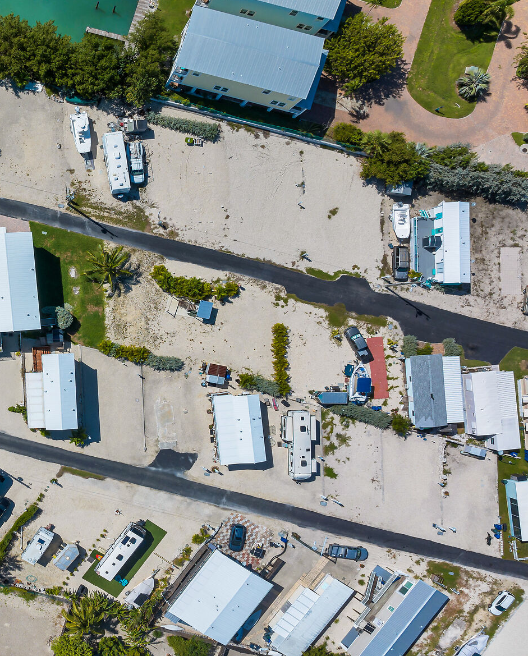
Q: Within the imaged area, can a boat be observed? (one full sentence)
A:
Yes, this view includes a boat.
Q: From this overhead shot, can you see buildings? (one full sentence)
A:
Yes, the picture does show a building.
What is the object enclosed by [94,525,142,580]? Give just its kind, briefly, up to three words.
camper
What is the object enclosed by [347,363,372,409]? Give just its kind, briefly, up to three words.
boat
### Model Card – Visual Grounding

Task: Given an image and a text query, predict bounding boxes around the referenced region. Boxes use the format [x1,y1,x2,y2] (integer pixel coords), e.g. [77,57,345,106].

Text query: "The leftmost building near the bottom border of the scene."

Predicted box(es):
[171,546,271,649]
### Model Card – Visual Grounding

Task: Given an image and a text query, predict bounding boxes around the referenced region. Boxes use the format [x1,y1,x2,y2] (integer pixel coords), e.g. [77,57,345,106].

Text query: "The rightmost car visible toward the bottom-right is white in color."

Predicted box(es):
[486,587,517,617]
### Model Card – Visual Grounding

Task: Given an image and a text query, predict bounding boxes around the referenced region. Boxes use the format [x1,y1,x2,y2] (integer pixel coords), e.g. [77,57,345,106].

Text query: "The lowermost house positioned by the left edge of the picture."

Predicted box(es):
[24,344,78,430]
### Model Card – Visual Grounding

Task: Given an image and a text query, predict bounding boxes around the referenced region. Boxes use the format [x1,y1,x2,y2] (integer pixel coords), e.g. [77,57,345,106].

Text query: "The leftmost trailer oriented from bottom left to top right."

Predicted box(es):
[22,522,54,563]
